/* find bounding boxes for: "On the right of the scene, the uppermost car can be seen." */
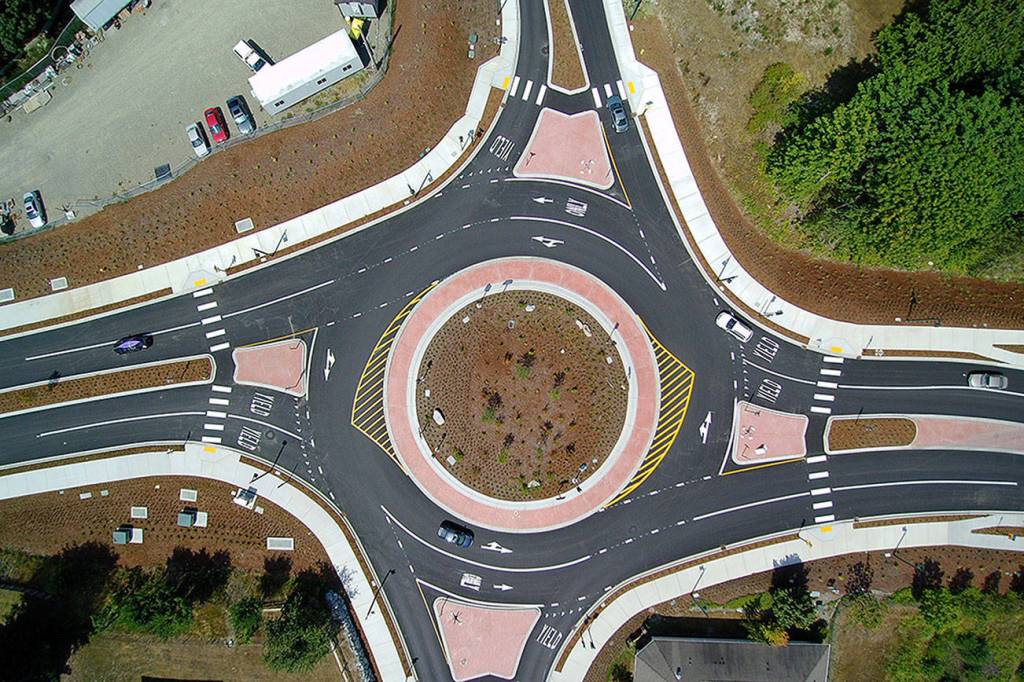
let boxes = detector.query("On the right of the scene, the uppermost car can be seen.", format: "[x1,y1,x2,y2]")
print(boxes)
[608,95,629,133]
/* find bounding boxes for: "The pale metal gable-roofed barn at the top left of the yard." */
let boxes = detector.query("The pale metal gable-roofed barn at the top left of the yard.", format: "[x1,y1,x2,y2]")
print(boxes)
[71,0,133,40]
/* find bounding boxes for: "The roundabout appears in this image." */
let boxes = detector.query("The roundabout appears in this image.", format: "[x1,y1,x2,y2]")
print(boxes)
[383,256,661,533]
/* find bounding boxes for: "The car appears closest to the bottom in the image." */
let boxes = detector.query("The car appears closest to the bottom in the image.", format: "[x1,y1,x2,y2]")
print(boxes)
[437,524,474,548]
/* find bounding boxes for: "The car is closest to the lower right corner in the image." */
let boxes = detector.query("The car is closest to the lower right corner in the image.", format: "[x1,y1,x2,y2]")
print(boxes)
[967,373,1010,390]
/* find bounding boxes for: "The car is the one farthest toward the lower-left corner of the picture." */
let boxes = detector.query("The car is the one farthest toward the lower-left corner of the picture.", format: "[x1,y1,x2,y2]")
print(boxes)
[112,334,150,354]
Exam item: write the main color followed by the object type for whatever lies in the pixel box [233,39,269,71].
white truck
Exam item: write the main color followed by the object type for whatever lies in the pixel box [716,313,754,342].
white car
